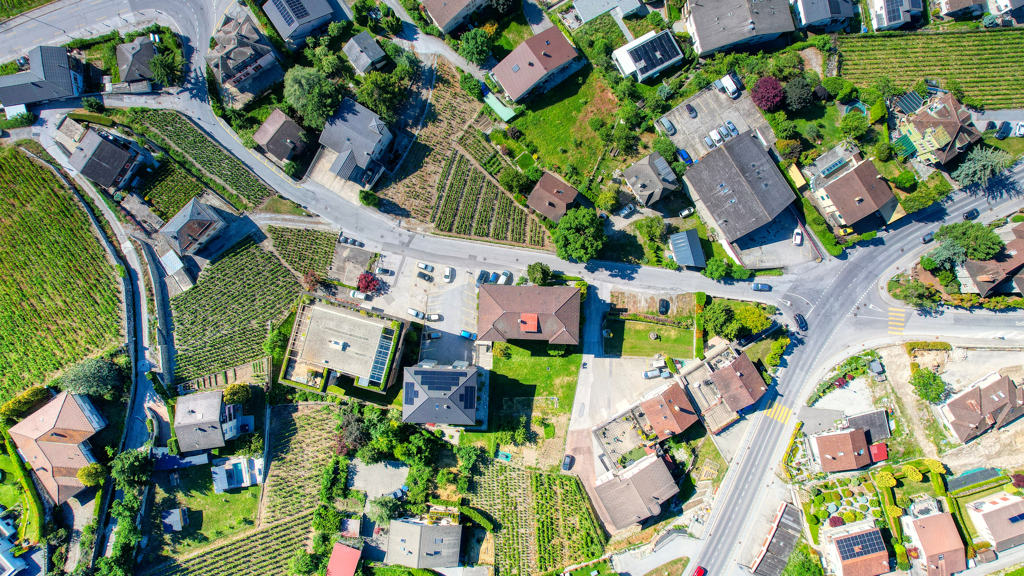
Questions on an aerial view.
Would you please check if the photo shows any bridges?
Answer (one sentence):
No, there's no bridge here.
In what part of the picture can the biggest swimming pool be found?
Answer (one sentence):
Look in the bottom left portion of the view to spot the biggest swimming pool.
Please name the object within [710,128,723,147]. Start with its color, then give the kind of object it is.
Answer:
white vehicle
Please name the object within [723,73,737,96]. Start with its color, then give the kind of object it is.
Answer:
white vehicle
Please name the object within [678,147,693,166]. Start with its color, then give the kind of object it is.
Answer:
blue vehicle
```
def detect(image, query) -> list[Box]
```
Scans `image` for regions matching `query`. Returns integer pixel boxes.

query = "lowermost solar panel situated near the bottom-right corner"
[837,530,886,561]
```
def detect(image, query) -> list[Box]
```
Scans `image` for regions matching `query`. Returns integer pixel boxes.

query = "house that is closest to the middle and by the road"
[478,284,580,367]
